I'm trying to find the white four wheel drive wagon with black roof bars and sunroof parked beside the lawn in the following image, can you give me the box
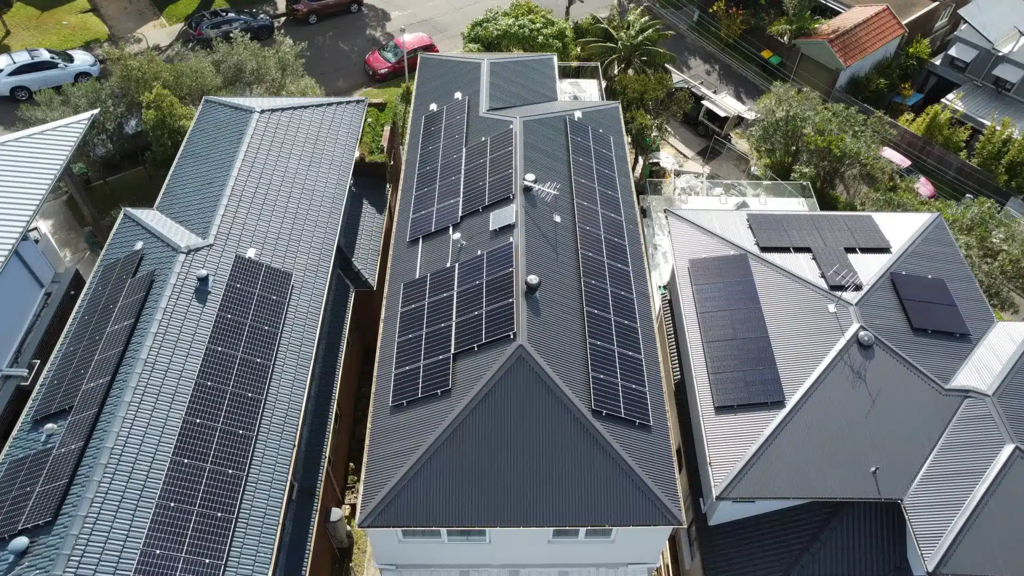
[0,41,103,102]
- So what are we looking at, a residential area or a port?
residential area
